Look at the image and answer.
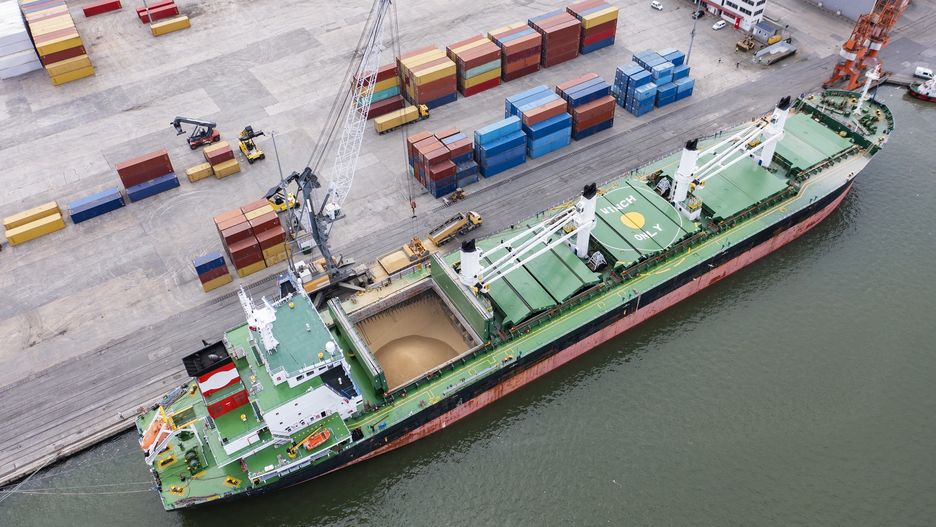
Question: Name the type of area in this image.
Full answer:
What you see here is a port.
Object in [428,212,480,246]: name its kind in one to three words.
truck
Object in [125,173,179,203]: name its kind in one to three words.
shipping container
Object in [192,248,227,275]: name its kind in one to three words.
shipping container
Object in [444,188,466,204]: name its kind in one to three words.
work vehicle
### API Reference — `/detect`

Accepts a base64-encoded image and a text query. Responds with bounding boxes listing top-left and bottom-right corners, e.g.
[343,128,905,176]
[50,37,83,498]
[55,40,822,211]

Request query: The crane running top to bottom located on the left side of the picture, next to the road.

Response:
[287,0,412,315]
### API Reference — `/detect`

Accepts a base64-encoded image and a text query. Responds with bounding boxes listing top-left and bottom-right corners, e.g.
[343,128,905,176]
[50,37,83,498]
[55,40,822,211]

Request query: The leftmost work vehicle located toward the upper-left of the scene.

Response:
[170,122,223,149]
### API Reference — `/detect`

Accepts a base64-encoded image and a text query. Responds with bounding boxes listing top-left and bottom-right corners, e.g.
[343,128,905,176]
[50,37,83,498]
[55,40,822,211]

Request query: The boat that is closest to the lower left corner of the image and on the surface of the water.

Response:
[134,414,165,444]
